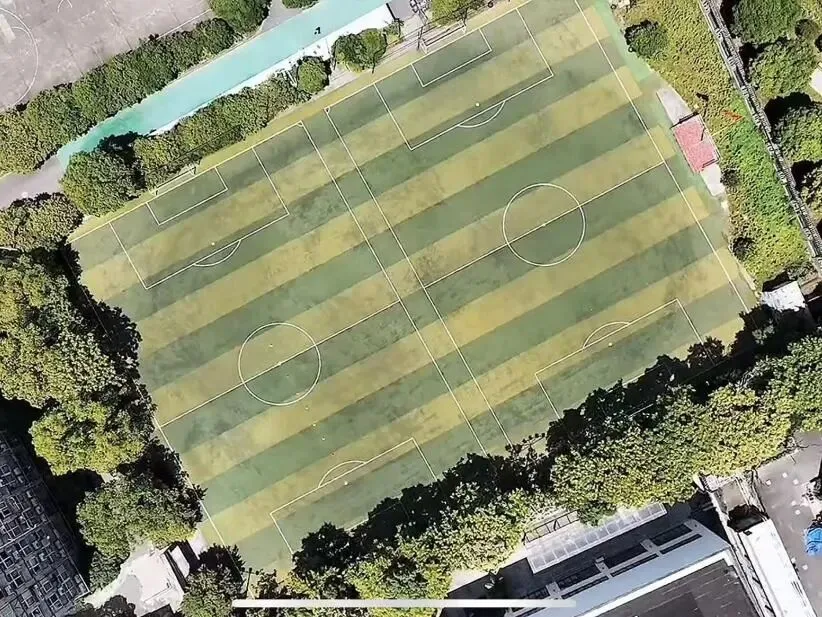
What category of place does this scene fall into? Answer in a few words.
sports ground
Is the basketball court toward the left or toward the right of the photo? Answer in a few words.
left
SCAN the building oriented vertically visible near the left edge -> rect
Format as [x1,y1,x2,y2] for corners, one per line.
[0,417,89,617]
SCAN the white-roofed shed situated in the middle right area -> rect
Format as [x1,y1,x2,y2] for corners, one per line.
[753,280,808,320]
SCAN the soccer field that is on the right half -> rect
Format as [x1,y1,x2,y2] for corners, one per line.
[328,0,758,455]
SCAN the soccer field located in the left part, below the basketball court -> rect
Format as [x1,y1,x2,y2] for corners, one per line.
[64,124,491,604]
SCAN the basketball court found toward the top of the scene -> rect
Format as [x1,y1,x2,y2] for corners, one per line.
[0,0,229,122]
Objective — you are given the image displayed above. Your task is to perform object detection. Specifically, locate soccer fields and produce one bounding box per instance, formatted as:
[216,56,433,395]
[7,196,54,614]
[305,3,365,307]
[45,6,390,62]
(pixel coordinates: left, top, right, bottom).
[328,0,758,455]
[64,124,491,604]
